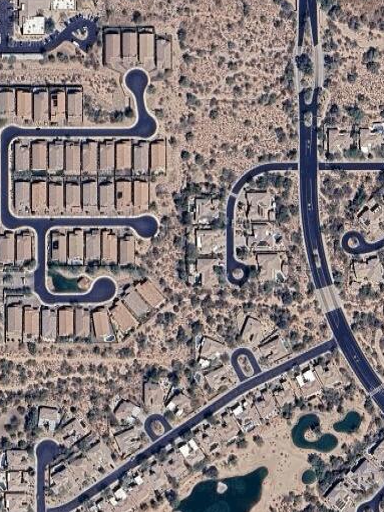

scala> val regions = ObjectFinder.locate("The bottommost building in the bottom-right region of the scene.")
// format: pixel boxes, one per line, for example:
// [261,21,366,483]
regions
[325,481,358,512]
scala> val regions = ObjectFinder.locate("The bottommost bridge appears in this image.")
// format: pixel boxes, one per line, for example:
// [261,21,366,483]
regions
[315,285,342,318]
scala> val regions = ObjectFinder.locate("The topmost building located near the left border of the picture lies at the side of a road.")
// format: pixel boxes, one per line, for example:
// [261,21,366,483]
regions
[19,0,75,34]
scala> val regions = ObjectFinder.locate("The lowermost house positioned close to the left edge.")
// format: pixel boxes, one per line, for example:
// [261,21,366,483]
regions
[5,493,30,512]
